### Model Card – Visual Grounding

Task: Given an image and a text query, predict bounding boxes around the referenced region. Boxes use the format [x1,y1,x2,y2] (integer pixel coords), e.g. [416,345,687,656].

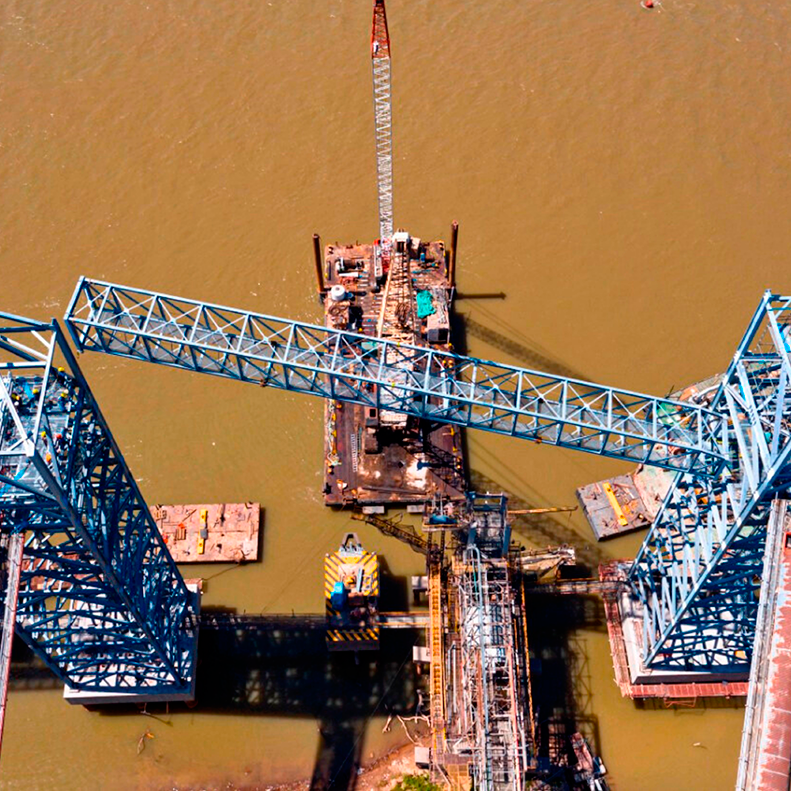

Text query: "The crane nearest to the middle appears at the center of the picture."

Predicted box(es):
[342,226,442,453]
